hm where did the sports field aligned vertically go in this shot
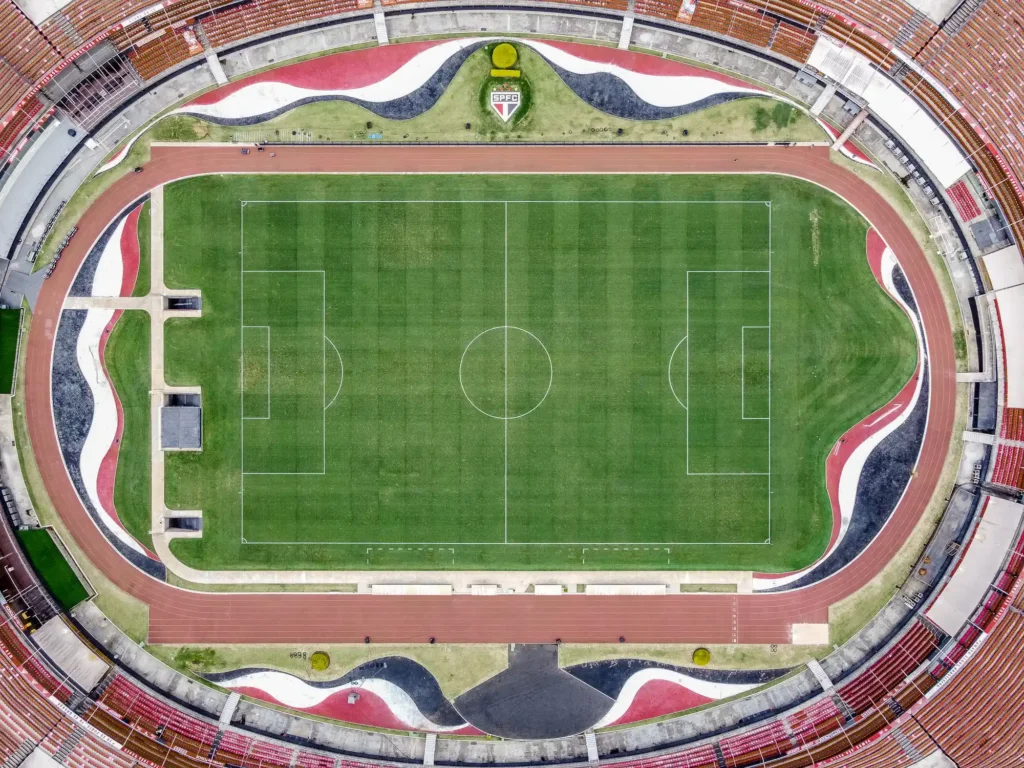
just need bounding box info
[0,307,21,397]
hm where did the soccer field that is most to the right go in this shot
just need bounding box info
[64,175,919,592]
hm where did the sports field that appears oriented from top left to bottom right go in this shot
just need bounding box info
[18,526,93,610]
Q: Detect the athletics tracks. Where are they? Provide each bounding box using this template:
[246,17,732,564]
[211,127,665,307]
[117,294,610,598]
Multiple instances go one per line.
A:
[25,143,956,644]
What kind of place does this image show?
sports ground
